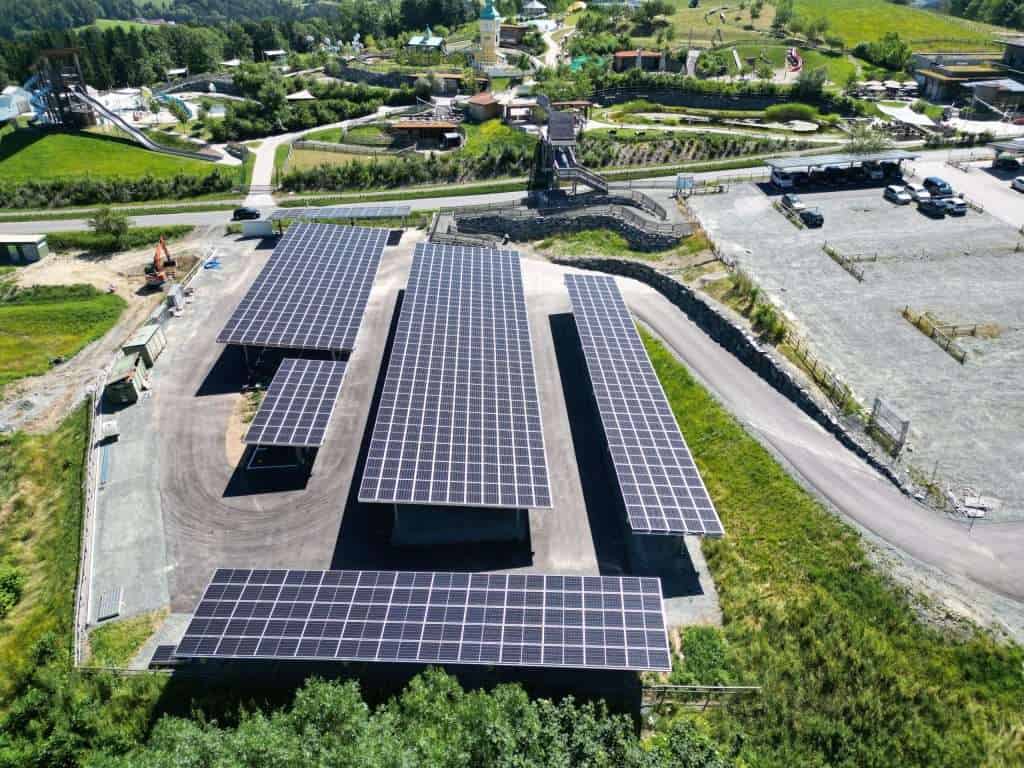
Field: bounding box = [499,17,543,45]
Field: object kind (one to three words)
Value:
building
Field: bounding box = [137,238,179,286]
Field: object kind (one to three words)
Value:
work vehicle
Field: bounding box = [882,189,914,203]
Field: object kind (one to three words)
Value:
car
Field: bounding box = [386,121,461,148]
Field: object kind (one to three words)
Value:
barn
